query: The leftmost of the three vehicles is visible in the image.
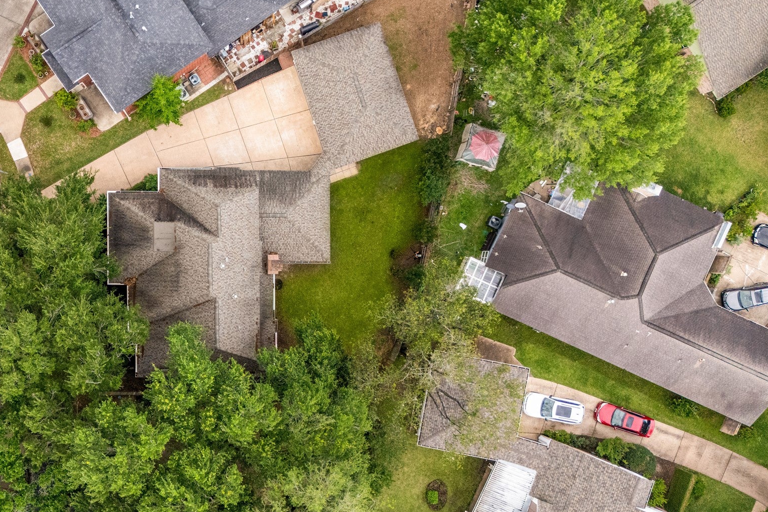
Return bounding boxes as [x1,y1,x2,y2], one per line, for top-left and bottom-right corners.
[523,393,586,426]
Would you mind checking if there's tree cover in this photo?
Yes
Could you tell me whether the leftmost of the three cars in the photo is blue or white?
white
